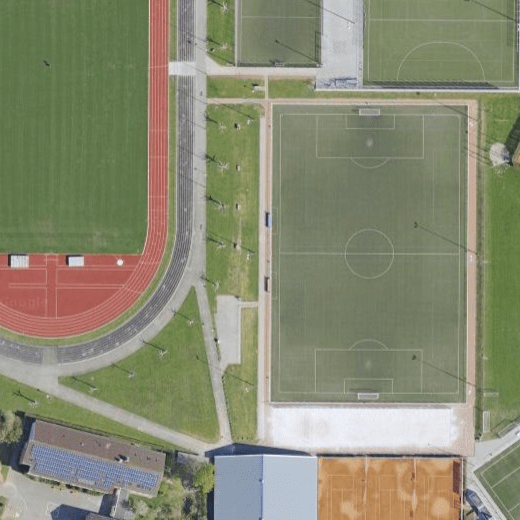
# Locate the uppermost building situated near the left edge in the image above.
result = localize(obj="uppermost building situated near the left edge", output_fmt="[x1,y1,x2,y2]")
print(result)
[24,420,165,497]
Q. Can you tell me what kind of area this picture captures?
sports ground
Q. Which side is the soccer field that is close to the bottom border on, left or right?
right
